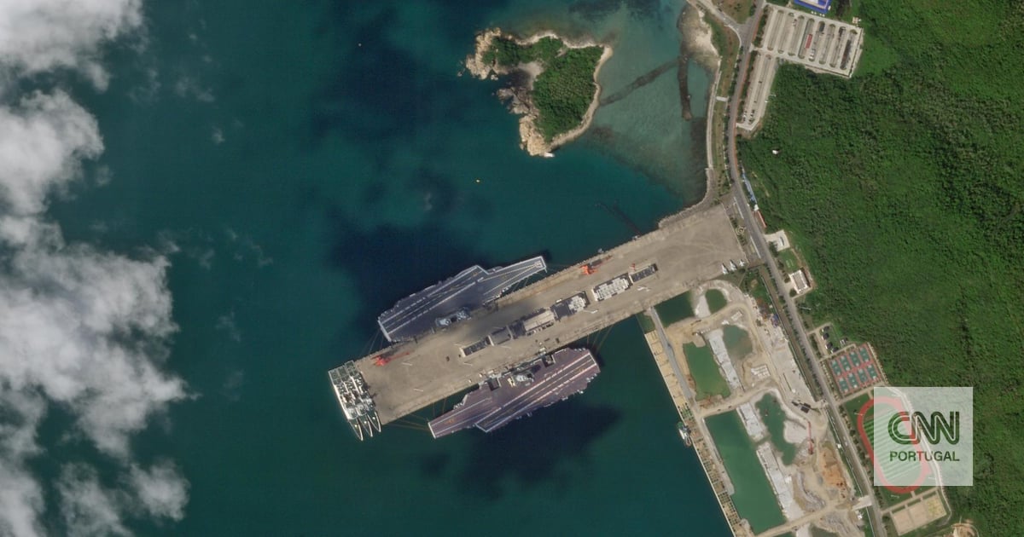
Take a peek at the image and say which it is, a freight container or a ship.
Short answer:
ship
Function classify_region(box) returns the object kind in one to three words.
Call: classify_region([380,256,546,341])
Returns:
ship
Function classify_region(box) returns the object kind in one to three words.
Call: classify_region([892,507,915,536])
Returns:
sports court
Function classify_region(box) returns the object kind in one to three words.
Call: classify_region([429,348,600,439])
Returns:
ship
